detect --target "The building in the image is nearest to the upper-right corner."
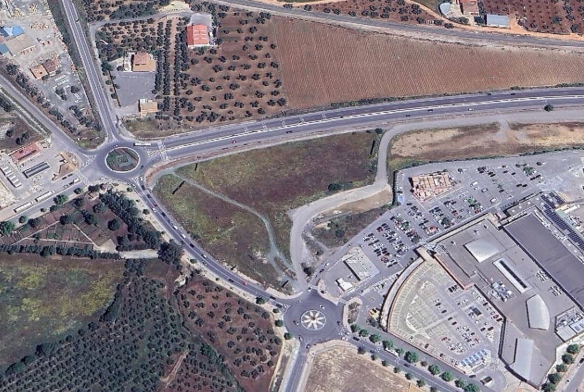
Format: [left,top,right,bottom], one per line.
[485,15,509,30]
